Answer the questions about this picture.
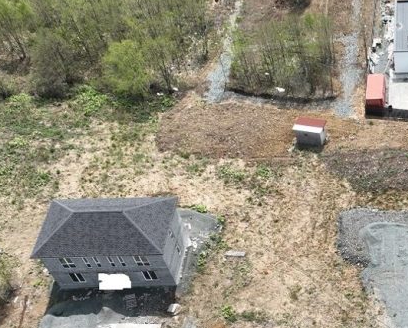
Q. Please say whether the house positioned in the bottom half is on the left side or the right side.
left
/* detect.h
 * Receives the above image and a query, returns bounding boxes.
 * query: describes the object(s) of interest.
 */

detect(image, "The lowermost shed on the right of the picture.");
[293,111,327,146]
